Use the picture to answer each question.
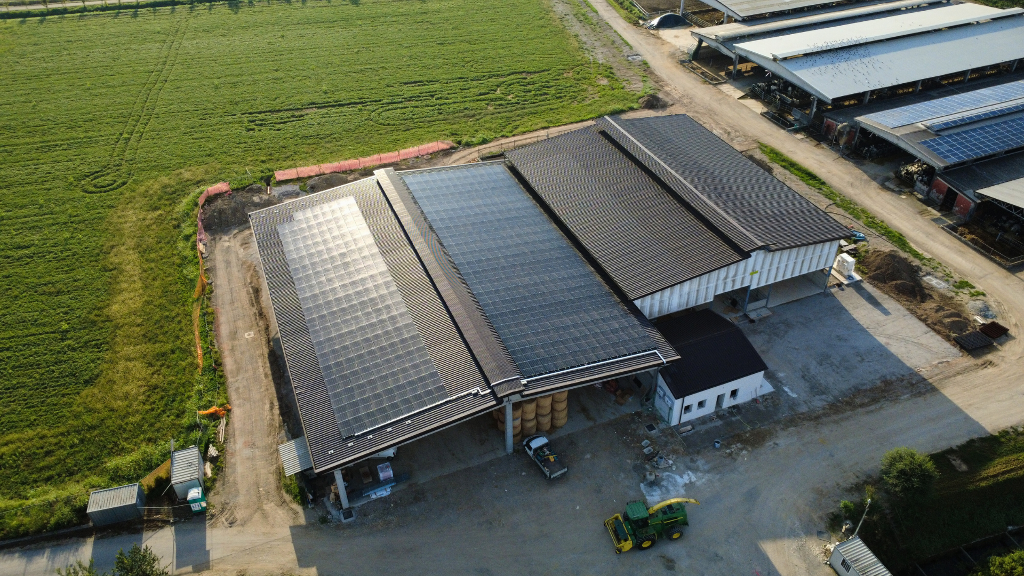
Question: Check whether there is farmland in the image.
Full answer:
Yes, some farmland is visible.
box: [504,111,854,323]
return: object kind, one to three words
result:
barn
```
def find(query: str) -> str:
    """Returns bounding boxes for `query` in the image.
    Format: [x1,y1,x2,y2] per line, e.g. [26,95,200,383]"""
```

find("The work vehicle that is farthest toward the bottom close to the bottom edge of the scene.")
[604,498,705,560]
